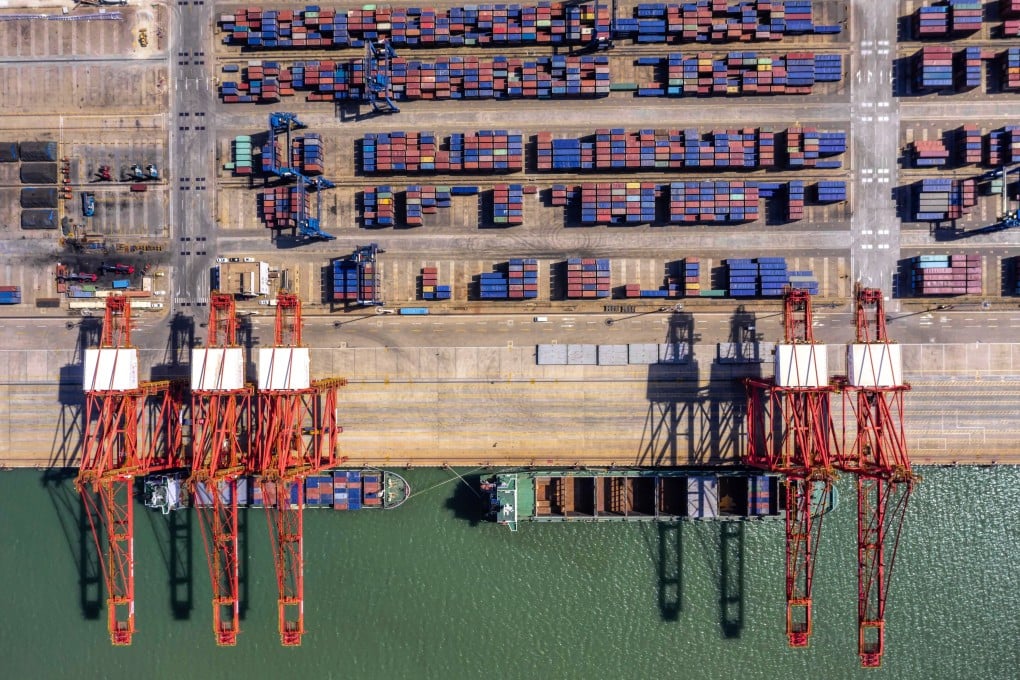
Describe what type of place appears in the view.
port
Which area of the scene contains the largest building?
left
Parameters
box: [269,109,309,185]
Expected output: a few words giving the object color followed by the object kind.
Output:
blue container crane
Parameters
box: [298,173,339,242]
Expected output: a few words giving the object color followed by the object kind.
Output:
blue container crane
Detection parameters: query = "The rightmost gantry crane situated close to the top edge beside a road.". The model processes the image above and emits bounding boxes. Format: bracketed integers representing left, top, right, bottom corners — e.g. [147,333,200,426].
[585,0,618,51]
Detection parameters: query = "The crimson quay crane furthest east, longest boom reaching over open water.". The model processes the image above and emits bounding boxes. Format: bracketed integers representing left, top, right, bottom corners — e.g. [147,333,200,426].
[792,286,917,668]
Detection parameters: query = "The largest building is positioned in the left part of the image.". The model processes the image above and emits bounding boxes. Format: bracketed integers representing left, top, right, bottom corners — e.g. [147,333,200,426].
[219,262,268,296]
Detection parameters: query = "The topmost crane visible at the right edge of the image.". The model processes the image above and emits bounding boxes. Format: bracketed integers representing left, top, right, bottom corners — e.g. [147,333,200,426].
[964,165,1020,235]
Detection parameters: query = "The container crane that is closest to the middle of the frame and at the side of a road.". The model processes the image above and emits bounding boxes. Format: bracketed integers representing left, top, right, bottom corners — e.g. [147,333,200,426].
[356,240,391,308]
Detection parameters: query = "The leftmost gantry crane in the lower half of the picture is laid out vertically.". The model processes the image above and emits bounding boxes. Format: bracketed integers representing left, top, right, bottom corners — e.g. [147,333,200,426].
[72,290,204,647]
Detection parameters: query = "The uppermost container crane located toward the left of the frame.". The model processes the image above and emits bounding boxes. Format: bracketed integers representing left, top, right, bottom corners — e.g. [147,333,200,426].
[366,36,402,114]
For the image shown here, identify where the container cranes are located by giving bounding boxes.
[256,290,352,647]
[72,290,204,647]
[269,109,309,185]
[366,36,402,114]
[964,165,1020,235]
[356,240,391,308]
[792,286,917,668]
[729,286,840,648]
[585,0,618,51]
[298,173,339,242]
[186,290,280,647]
